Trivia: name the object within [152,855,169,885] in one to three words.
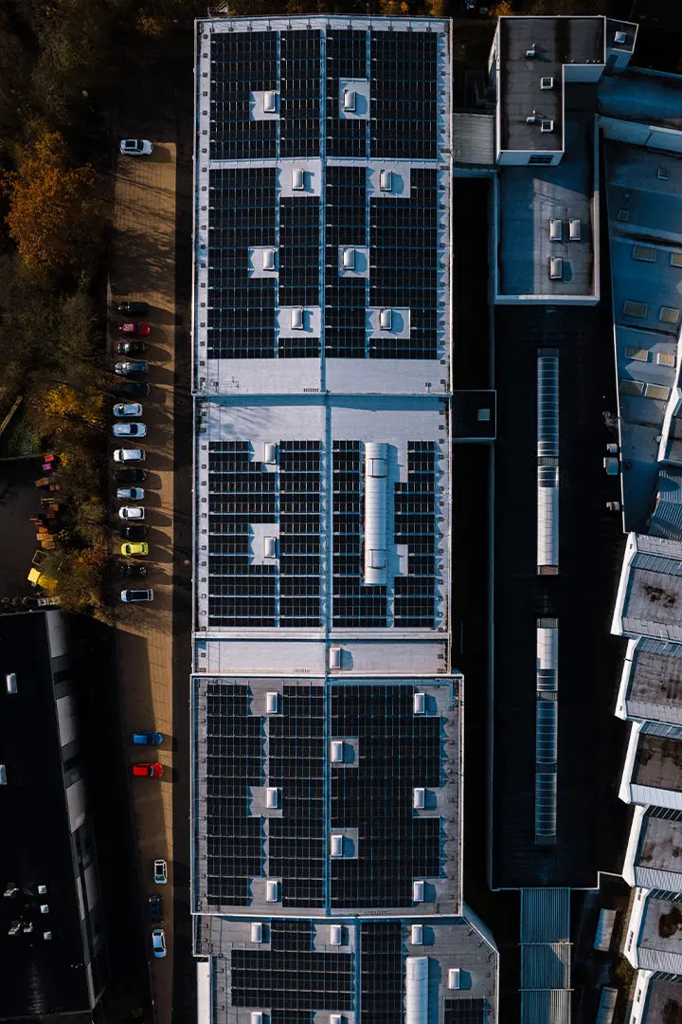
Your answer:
car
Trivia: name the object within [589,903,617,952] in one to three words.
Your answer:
shipping container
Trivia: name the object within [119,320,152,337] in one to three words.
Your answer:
car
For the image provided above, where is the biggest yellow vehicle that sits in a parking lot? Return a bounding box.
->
[121,541,151,557]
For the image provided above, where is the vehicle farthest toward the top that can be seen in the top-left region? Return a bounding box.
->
[119,137,154,159]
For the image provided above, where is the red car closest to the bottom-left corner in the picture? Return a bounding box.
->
[133,762,165,778]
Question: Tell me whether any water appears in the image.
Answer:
No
